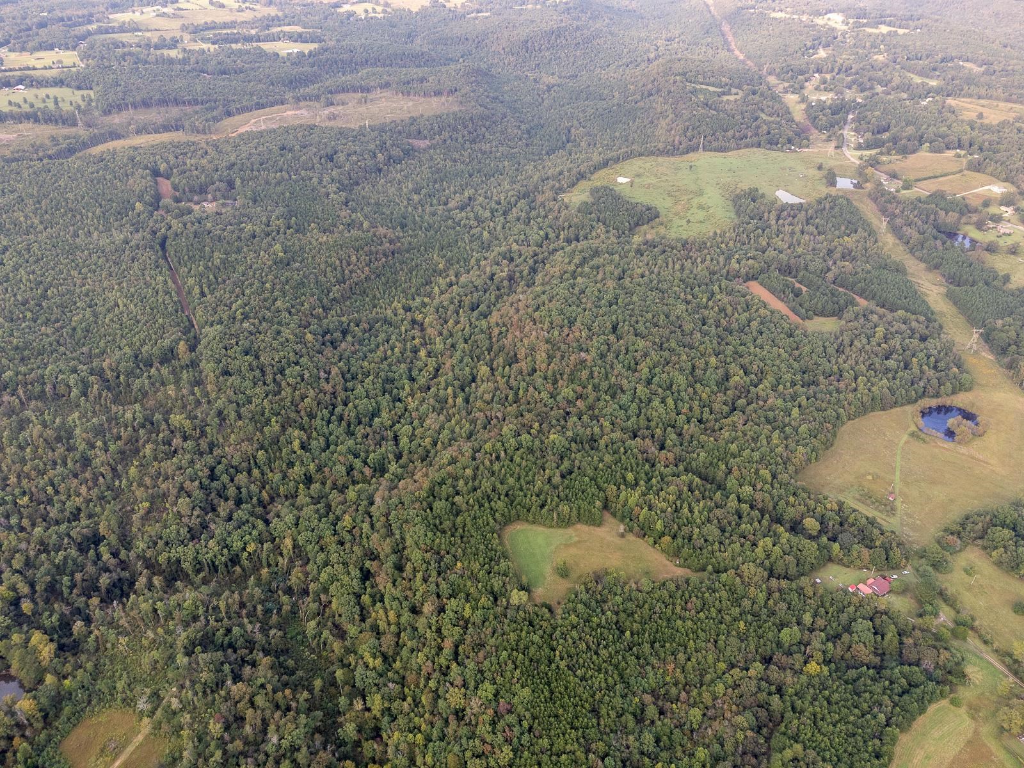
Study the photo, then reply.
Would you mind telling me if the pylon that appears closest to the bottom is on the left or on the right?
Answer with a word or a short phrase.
right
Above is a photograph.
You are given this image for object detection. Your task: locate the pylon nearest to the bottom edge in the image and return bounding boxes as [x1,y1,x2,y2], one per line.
[966,324,989,354]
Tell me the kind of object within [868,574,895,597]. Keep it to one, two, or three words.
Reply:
house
